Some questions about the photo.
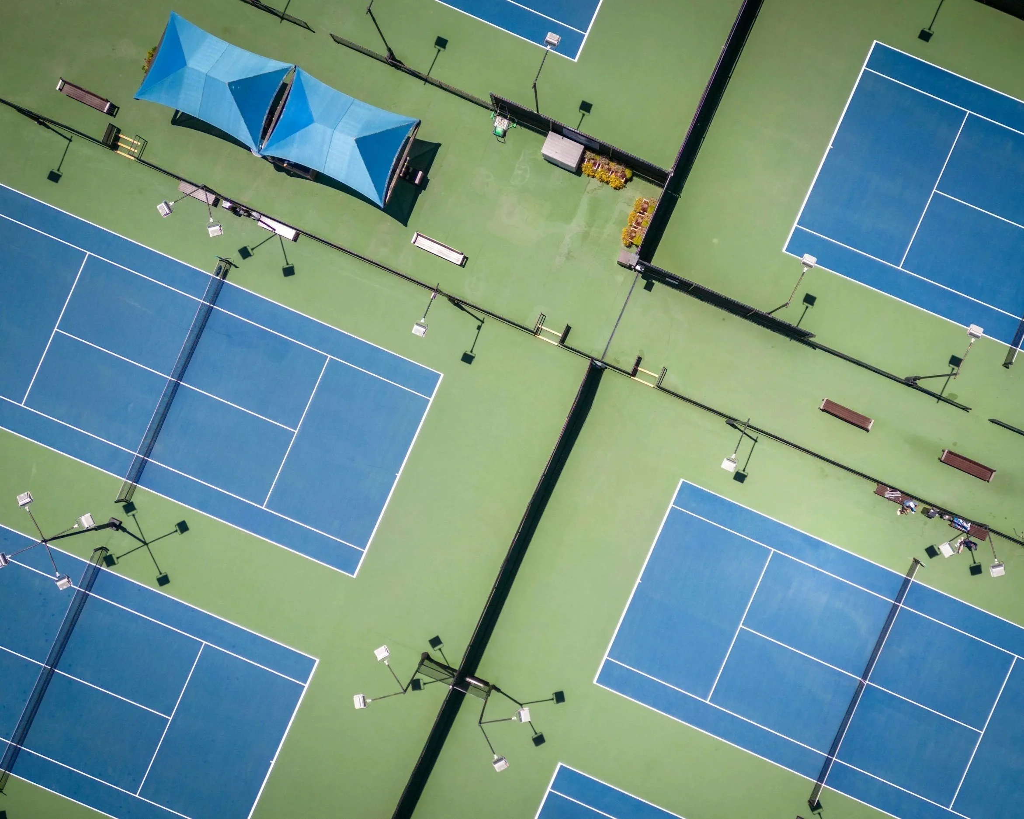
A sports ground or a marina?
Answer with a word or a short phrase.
sports ground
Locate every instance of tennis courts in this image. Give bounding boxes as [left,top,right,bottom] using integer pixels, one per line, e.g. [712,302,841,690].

[0,524,315,819]
[537,764,685,819]
[784,41,1024,352]
[432,0,601,60]
[594,481,1024,819]
[0,185,443,579]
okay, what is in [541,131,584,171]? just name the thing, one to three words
shed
